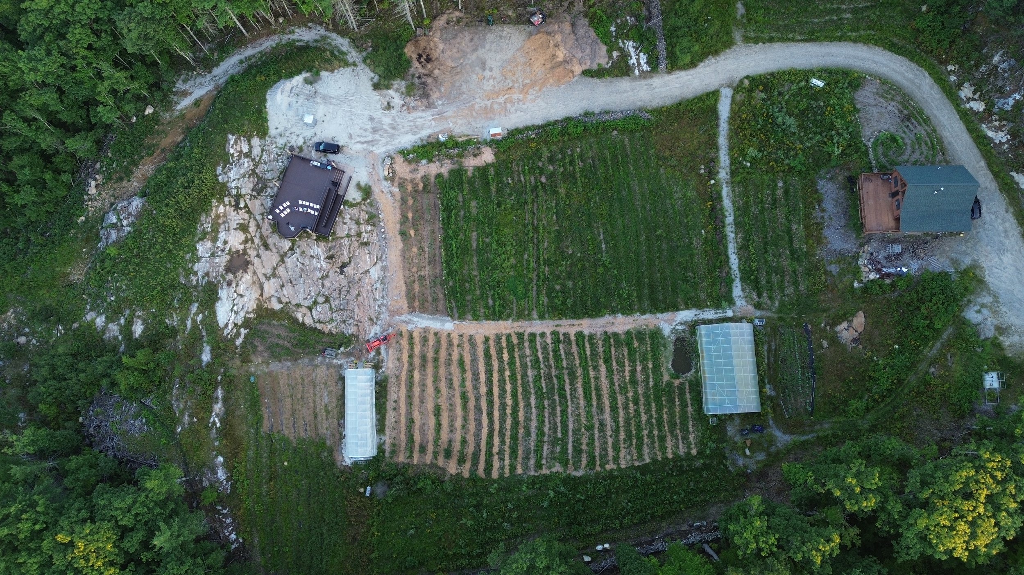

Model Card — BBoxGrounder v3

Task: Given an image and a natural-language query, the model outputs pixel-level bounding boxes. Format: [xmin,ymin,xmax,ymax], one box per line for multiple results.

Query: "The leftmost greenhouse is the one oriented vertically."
[343,368,378,477]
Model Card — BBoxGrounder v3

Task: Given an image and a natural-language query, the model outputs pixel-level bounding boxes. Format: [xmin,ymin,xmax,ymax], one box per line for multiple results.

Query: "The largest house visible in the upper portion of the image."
[856,165,979,234]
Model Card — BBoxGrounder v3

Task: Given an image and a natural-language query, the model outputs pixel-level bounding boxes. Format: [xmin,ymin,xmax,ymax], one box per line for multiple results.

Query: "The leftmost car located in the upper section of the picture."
[313,140,340,154]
